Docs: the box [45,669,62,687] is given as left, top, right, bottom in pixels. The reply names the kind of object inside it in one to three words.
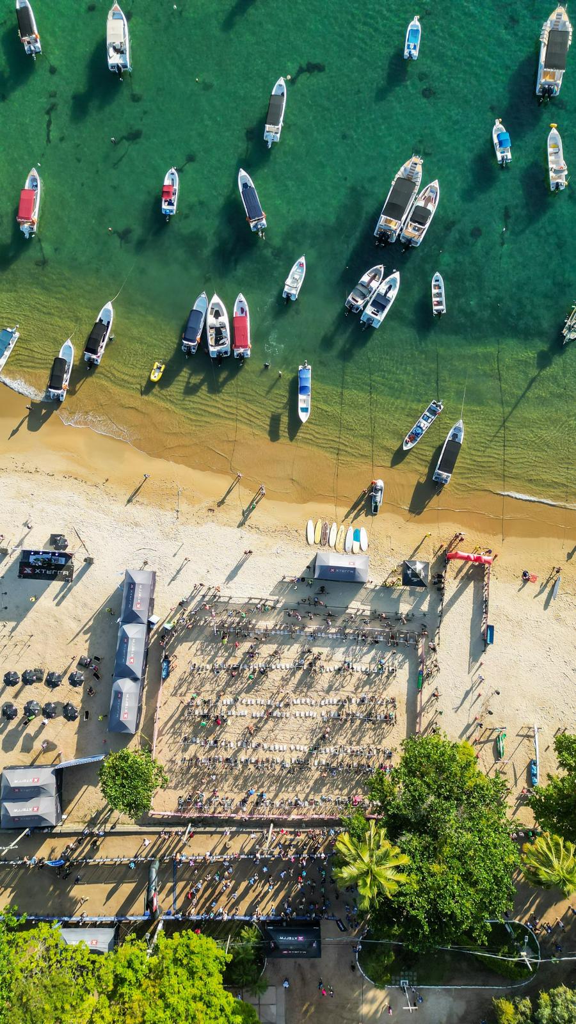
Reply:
umbrella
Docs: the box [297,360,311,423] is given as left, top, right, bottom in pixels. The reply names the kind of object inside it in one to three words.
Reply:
boat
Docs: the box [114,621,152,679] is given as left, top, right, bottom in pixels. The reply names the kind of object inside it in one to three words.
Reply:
tent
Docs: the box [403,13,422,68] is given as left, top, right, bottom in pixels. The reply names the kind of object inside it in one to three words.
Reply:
boat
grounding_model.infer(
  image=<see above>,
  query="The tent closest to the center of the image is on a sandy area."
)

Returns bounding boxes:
[314,551,368,582]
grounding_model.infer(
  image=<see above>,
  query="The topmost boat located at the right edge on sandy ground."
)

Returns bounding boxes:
[537,0,574,106]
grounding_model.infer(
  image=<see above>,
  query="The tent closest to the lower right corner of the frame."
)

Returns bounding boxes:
[267,914,320,957]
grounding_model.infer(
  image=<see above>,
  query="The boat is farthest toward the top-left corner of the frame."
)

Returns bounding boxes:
[13,0,42,62]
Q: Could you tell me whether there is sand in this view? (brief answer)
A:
Yes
